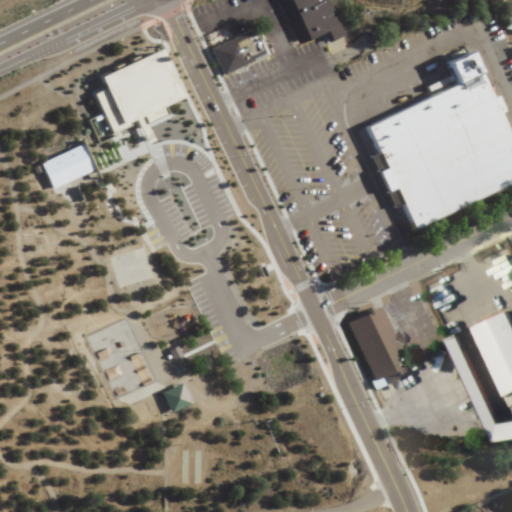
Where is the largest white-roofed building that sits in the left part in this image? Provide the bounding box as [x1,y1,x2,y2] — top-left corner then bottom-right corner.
[96,50,189,142]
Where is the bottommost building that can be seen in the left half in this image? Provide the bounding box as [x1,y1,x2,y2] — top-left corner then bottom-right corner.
[163,385,194,412]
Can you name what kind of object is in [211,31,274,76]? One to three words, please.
building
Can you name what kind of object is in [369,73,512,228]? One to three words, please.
building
